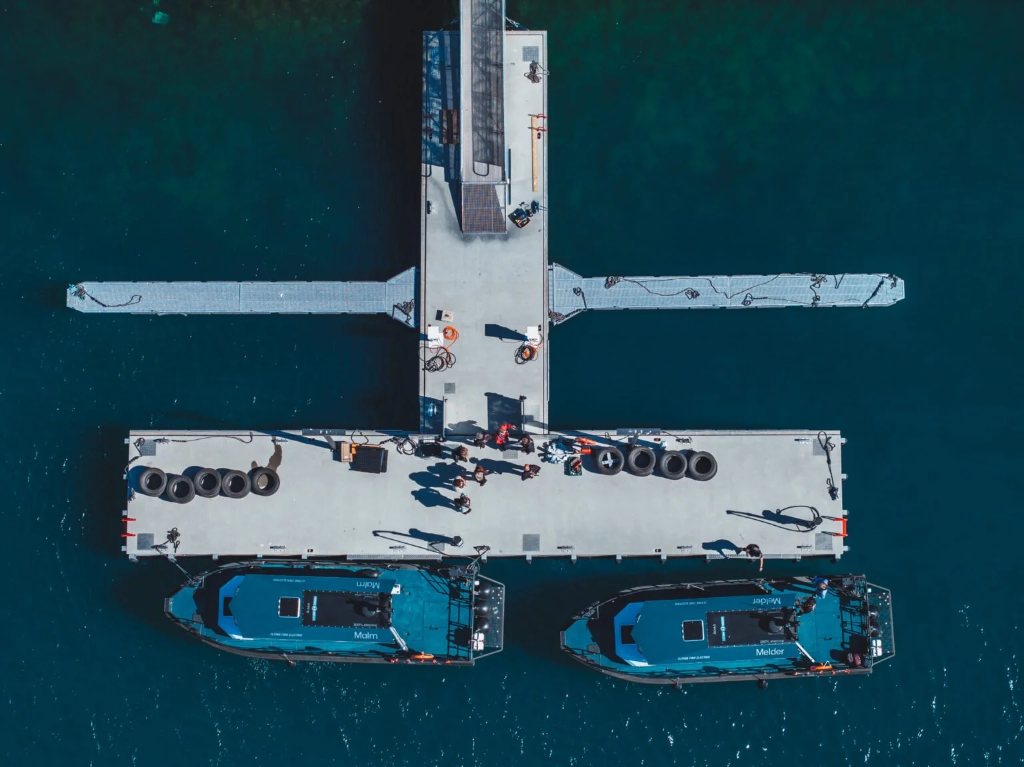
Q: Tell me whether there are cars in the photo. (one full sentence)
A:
No, no car is visible in the view.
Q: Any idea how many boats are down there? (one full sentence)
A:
In total, there are 2 boats in the scene.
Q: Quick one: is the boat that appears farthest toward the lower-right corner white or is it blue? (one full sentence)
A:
From above, the boat that appears farthest toward the lower-right corner appears blue.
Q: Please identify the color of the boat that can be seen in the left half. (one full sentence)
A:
In this view, the boat that can be seen in the left half is blue.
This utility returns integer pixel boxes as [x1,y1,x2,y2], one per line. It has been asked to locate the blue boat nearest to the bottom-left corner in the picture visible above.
[164,559,505,667]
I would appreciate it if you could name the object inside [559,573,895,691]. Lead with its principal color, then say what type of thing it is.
blue boat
